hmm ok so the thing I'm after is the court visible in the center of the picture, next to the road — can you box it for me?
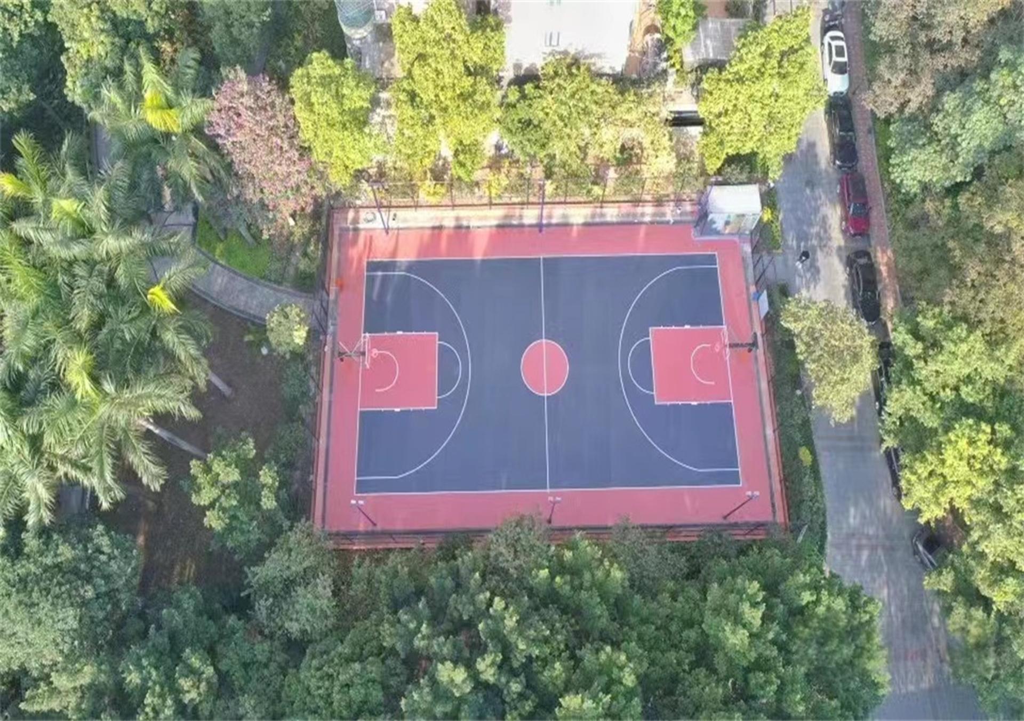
[316,198,785,546]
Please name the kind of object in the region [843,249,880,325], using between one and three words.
car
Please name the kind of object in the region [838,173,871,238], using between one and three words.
car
